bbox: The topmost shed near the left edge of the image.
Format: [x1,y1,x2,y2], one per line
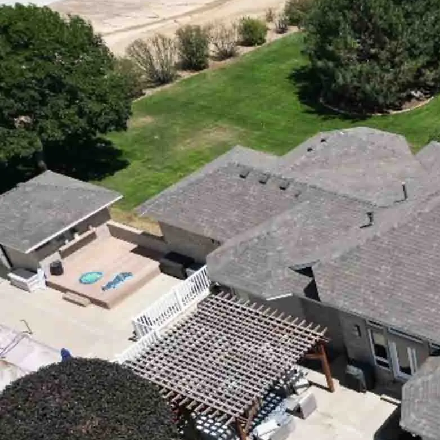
[0,167,125,269]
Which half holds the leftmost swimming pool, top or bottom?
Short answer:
bottom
